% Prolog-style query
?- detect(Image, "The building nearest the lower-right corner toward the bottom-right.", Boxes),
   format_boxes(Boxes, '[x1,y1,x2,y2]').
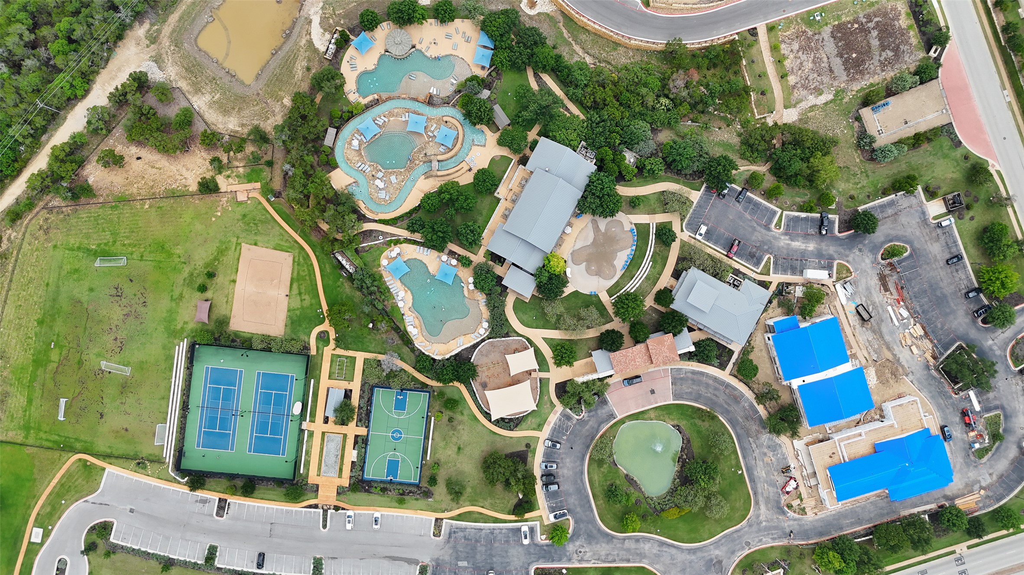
[804,396,954,509]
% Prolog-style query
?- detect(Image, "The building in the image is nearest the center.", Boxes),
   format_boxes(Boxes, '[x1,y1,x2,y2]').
[502,265,535,298]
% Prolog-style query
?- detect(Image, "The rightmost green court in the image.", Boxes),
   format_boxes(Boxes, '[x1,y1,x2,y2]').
[363,386,431,485]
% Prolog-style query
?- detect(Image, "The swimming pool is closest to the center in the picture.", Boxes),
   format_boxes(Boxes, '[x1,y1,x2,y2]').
[398,257,484,346]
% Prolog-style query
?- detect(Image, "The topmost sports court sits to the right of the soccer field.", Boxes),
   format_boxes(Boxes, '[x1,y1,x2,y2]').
[229,243,294,337]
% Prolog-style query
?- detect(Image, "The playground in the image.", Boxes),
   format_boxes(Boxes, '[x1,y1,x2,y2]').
[470,336,541,419]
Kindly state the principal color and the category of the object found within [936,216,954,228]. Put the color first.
white vehicle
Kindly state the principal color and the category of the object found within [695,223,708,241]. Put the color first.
white vehicle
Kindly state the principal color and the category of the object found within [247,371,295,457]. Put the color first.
blue tennis court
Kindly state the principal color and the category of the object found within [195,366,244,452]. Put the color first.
blue tennis court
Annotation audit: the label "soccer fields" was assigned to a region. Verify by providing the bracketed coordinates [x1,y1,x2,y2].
[24,229,189,461]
